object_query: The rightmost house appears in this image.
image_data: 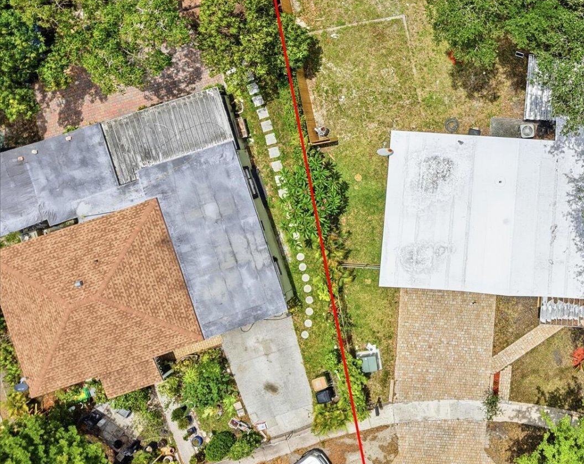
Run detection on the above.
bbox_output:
[379,116,584,300]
